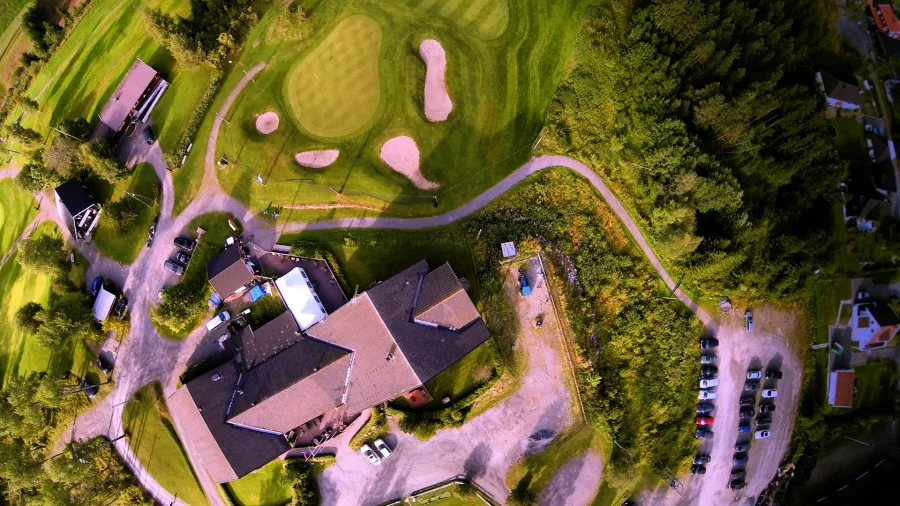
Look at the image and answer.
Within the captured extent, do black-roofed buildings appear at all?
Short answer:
Yes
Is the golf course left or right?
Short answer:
left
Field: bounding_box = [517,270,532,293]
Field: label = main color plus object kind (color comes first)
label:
blue work vehicle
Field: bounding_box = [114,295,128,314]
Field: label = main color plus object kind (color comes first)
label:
black car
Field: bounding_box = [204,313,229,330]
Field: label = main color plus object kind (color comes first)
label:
white vehicle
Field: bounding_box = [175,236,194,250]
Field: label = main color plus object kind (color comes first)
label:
black car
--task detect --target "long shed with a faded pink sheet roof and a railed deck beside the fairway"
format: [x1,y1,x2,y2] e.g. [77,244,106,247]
[98,57,171,127]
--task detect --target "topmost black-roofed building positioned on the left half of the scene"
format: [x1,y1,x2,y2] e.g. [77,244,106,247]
[54,177,103,242]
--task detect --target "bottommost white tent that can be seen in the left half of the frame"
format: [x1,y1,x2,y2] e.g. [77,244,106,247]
[274,266,330,331]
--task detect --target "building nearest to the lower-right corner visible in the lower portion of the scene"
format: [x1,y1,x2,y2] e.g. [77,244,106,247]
[823,369,853,408]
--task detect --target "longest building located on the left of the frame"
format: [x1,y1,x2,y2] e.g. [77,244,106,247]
[166,260,492,482]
